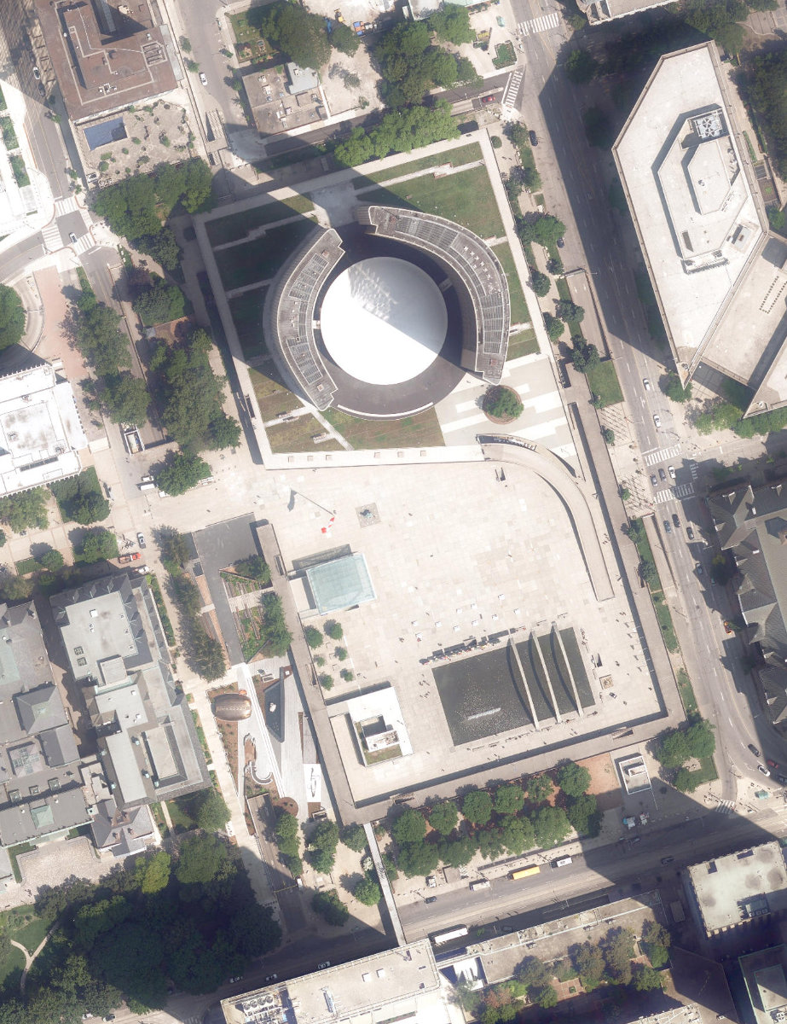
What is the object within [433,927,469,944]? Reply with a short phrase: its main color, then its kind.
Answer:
white vehicle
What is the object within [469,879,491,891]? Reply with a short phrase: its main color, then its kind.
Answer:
white vehicle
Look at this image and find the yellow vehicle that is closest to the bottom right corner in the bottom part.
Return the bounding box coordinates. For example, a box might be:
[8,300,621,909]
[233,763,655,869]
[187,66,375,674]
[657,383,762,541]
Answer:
[510,866,542,880]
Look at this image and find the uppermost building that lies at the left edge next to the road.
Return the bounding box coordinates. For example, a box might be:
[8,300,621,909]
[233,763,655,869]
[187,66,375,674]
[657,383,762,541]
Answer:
[26,0,183,122]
